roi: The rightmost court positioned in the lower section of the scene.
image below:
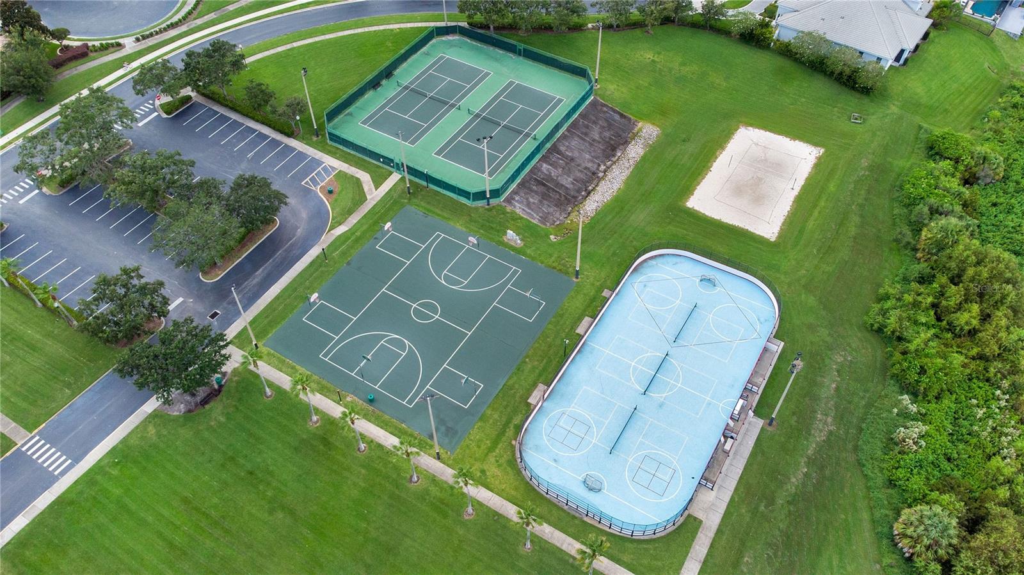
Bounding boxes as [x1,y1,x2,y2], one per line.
[518,240,786,533]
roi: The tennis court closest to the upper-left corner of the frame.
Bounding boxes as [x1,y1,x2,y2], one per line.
[360,53,491,146]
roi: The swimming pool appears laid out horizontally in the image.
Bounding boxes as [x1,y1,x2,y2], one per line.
[967,0,1012,20]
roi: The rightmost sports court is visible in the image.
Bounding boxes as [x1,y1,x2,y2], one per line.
[682,123,828,242]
